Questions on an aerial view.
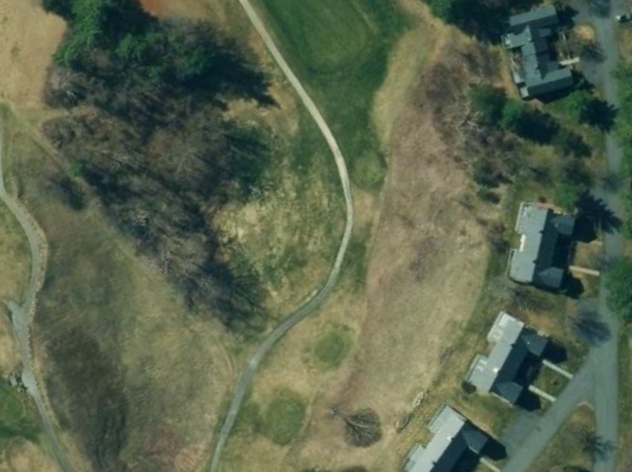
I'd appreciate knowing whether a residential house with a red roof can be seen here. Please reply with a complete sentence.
No, the frame has no residential house with a red roof in it.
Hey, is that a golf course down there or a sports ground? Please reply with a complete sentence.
This looks like a golf course.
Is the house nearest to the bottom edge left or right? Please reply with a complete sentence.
It is on the right.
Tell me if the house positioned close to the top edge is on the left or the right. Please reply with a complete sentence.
It is on the right.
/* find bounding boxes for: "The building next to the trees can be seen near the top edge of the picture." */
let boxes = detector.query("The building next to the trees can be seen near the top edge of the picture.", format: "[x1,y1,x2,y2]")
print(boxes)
[502,6,576,99]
